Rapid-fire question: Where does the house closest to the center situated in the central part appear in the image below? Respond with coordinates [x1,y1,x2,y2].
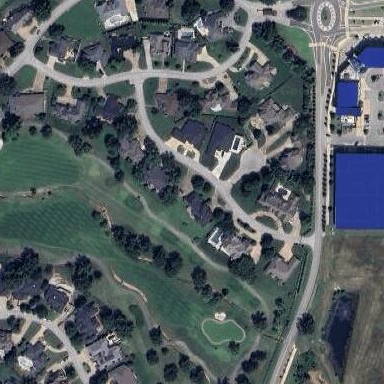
[183,191,216,220]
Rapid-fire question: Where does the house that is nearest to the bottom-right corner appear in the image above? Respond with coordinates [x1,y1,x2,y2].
[264,252,300,284]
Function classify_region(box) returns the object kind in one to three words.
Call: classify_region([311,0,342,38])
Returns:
roundabout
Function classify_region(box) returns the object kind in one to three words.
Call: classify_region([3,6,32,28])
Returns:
house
